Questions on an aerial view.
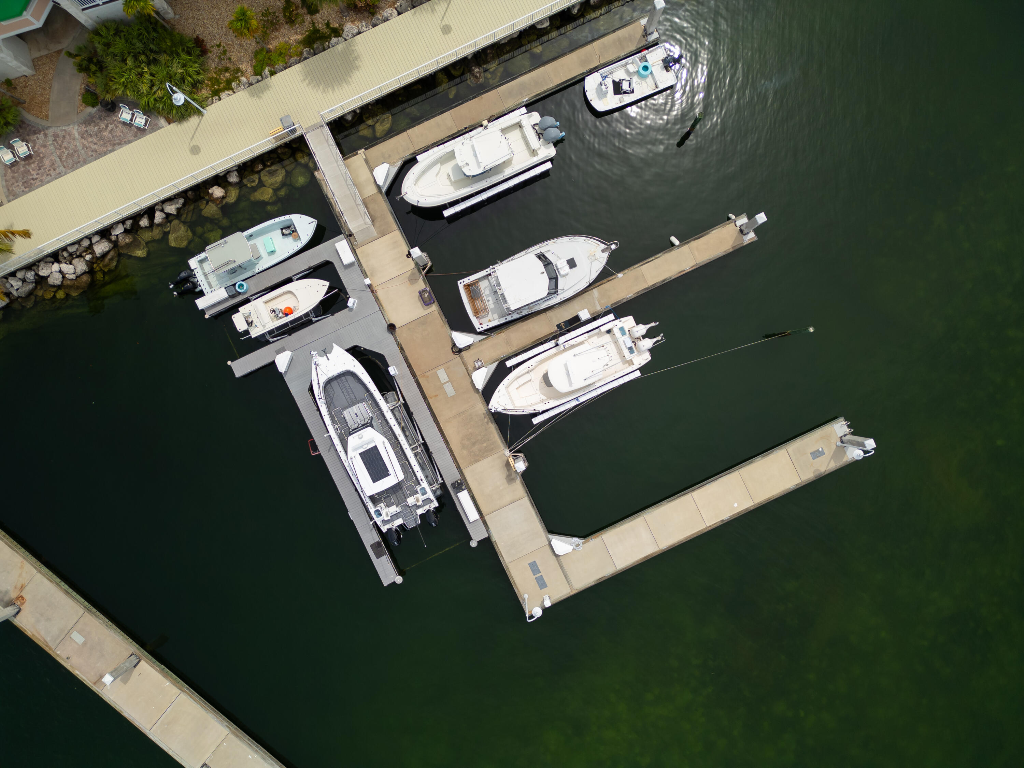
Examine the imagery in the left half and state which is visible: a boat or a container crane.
boat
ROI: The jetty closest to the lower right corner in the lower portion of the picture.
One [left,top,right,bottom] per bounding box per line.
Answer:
[560,416,857,593]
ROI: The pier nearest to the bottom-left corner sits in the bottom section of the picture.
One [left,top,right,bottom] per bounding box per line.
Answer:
[0,525,292,768]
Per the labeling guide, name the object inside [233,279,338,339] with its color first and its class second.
white boat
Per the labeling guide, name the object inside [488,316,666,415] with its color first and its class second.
white boat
